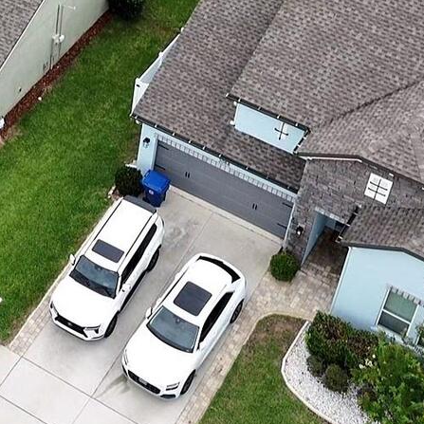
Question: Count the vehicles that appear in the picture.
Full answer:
In total, 2 vehicles can be seen.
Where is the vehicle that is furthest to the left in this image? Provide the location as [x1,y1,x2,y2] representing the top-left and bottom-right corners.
[43,199,167,345]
